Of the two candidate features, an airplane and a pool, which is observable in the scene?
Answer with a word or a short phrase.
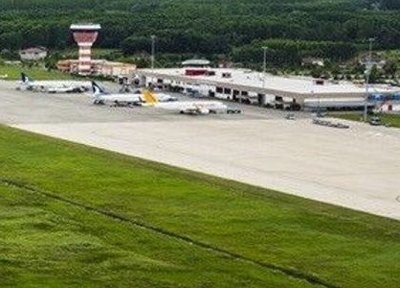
airplane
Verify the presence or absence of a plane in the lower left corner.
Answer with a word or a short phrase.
No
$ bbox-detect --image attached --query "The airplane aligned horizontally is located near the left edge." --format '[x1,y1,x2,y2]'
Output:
[16,64,90,90]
